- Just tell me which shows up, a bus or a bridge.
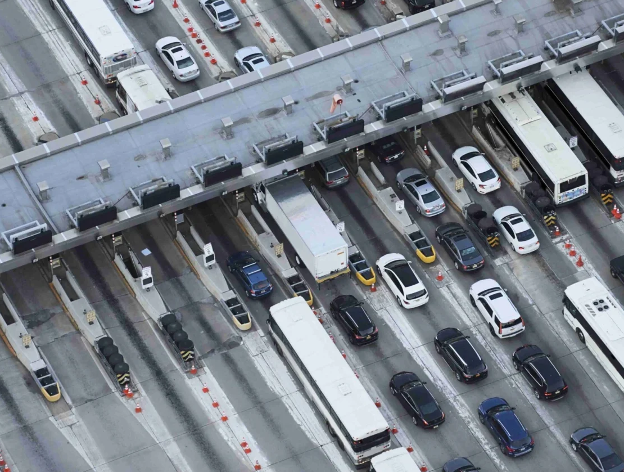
bus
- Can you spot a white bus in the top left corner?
Yes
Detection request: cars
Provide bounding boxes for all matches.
[450,462,482,472]
[331,297,378,346]
[453,149,501,195]
[124,0,154,15]
[391,374,445,430]
[398,170,445,218]
[333,0,365,11]
[229,254,273,300]
[404,0,438,17]
[513,346,568,402]
[156,38,199,81]
[309,153,351,189]
[470,281,526,339]
[479,400,534,458]
[377,254,429,308]
[610,256,624,284]
[368,133,403,163]
[200,0,240,34]
[493,208,540,253]
[365,26,384,35]
[437,225,484,271]
[435,328,488,385]
[572,428,624,472]
[236,44,274,74]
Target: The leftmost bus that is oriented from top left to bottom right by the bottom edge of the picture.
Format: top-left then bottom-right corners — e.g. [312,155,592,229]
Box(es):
[265,302,391,470]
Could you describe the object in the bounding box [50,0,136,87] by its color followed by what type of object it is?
white bus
